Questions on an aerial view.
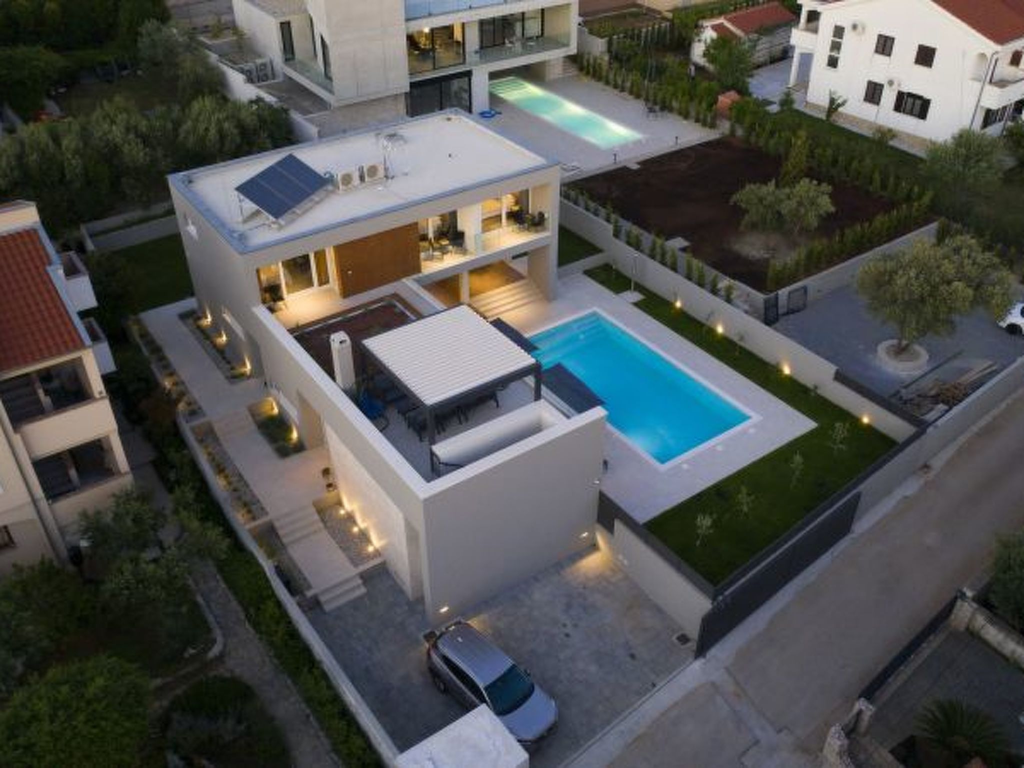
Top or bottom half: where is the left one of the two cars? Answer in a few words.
bottom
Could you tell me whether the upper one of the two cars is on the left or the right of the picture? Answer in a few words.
right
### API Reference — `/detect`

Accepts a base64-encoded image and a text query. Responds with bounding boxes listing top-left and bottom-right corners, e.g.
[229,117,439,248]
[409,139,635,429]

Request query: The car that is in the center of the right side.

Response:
[1004,293,1024,329]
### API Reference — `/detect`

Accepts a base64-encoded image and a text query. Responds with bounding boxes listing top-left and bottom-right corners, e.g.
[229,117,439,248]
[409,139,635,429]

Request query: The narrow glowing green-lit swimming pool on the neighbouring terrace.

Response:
[488,78,643,149]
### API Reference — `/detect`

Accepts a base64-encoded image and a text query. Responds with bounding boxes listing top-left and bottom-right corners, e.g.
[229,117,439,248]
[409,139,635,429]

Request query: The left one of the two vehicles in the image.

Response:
[427,624,560,756]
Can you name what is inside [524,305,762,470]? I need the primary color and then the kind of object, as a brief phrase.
blue swimming pool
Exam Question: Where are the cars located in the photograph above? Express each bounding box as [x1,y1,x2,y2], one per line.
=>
[1004,293,1024,329]
[427,624,560,756]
